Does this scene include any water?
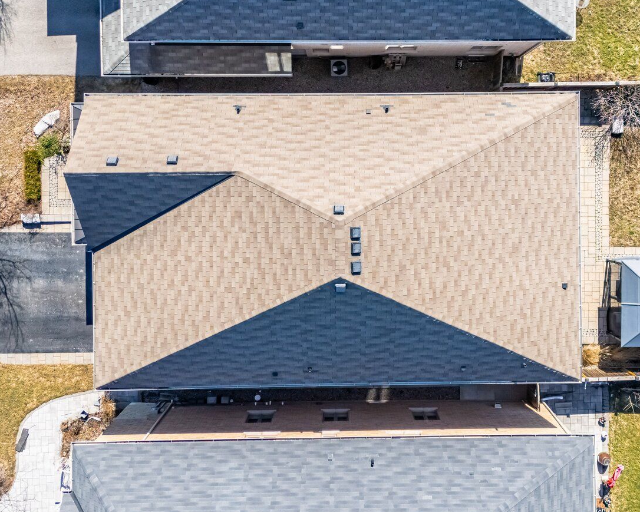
No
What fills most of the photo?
buildings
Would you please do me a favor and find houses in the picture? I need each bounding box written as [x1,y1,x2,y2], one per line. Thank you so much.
[57,390,599,512]
[62,88,585,394]
[97,0,580,77]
